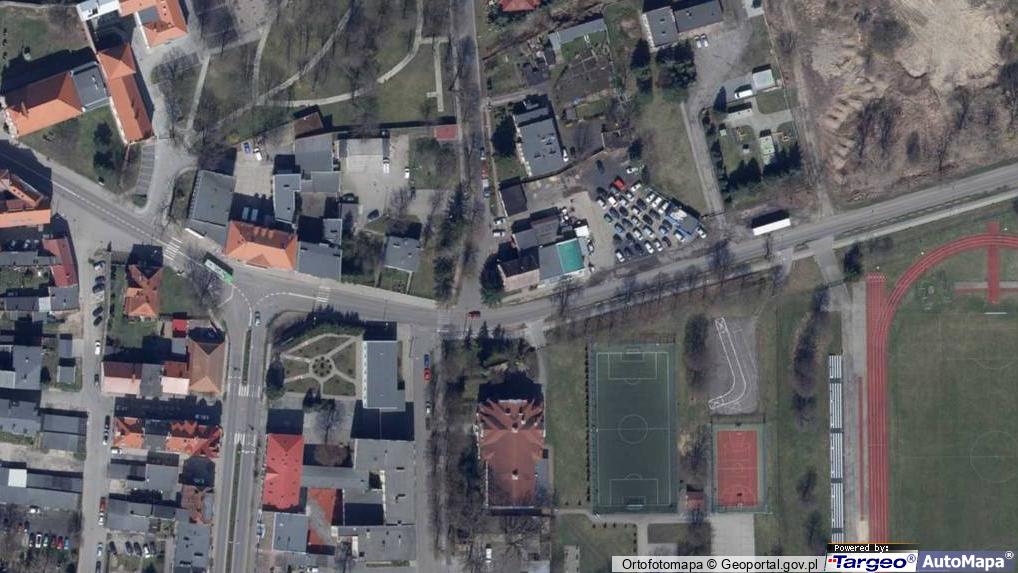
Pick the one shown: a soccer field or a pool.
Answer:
soccer field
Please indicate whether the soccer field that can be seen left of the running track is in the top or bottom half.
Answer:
bottom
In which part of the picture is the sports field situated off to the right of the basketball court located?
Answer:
bottom right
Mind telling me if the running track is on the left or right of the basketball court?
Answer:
on the right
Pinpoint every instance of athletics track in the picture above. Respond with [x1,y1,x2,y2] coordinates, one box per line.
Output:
[858,222,1018,573]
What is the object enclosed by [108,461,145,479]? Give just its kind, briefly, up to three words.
shed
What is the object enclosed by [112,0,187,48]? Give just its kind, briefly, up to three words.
building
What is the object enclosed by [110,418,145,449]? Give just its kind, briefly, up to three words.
house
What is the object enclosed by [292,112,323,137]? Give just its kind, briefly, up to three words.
shed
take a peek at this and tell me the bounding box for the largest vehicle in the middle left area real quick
[203,260,234,285]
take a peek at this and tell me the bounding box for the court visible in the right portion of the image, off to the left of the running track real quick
[713,424,766,513]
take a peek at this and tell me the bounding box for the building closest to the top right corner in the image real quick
[751,70,775,90]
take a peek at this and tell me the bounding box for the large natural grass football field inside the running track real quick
[893,312,1018,573]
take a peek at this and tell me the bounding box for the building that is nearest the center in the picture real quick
[499,252,541,290]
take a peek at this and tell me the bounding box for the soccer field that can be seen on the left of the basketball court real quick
[590,344,678,514]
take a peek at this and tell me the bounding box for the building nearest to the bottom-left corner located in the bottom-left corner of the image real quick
[0,466,83,510]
